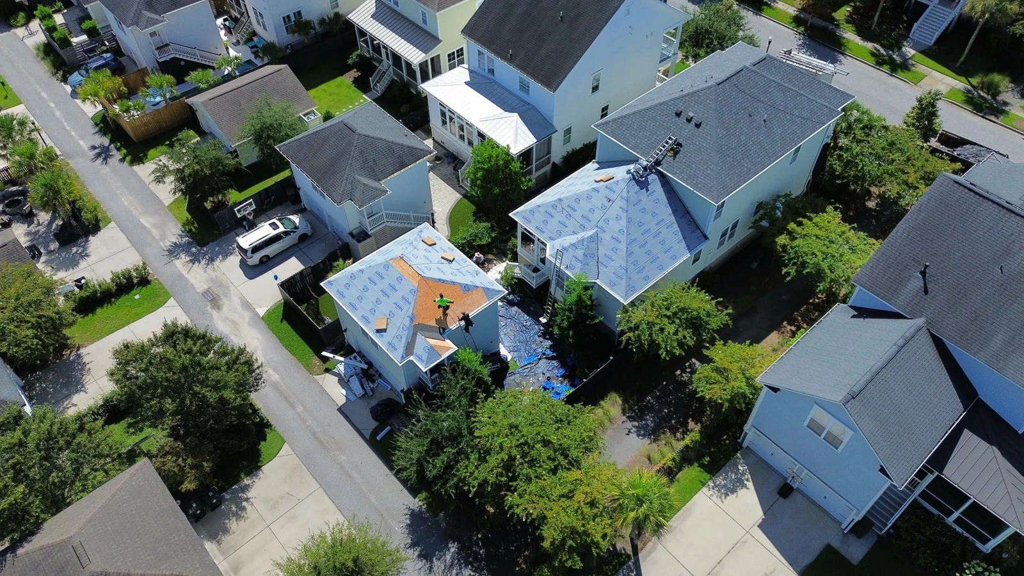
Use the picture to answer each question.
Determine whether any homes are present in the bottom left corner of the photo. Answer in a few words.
Yes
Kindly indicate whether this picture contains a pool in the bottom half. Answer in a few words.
No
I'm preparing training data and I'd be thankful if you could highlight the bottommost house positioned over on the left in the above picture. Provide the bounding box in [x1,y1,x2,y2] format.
[0,454,221,576]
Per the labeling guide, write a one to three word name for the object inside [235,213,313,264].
car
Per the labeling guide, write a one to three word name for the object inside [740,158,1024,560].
house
